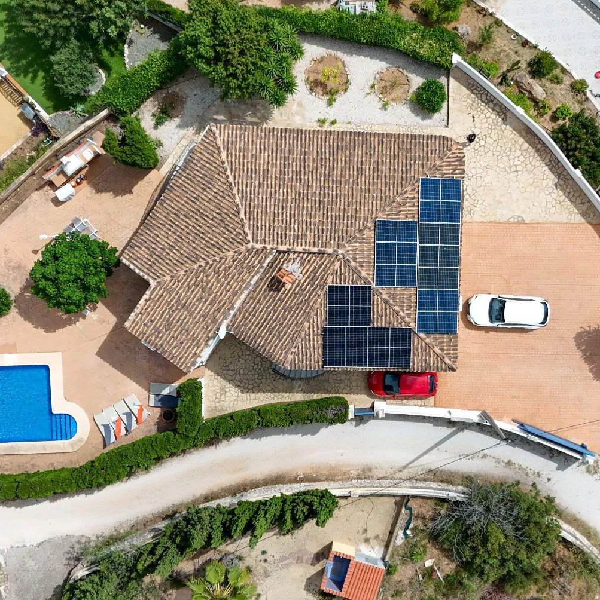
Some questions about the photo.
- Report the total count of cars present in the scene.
2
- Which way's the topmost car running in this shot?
horizontally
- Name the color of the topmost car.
white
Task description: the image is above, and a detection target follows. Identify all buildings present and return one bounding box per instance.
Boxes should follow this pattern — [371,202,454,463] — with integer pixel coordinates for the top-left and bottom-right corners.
[119,121,465,377]
[315,532,386,600]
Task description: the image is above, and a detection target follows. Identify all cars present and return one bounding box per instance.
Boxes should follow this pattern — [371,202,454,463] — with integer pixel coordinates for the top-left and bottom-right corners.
[367,370,436,404]
[464,292,547,331]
